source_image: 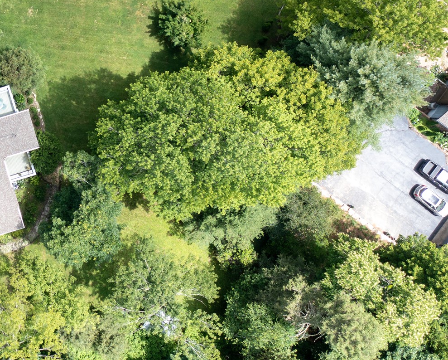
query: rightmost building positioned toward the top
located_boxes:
[418,87,448,134]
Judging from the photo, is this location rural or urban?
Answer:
rural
